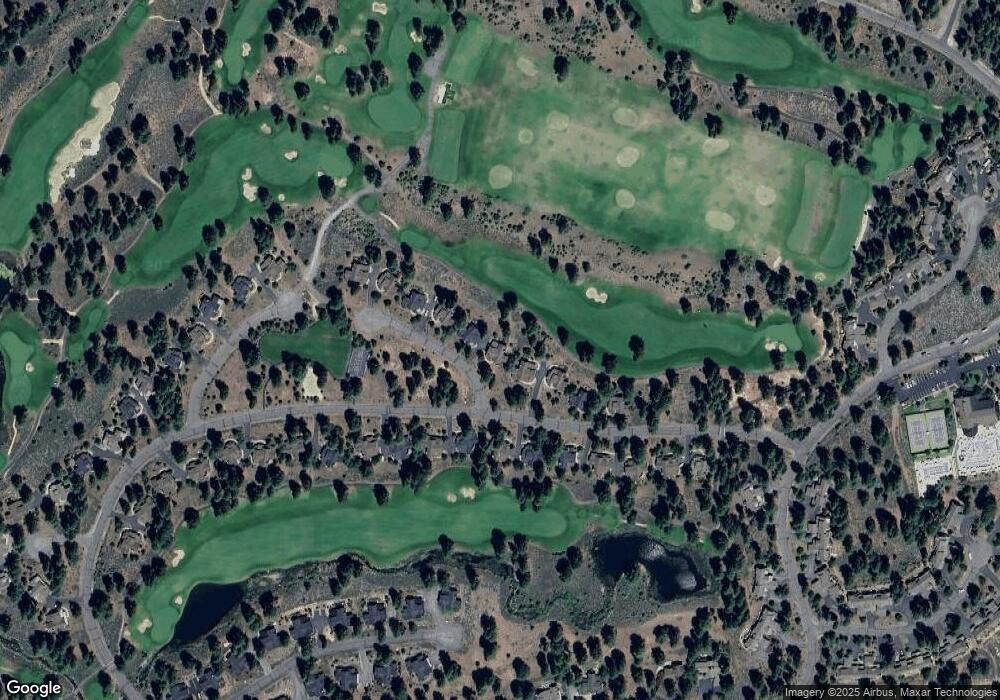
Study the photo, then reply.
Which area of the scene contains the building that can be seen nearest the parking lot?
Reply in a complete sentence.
The building that can be seen nearest the parking lot sits in the right section of the image.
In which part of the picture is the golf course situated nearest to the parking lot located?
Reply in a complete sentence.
You can find the golf course situated nearest to the parking lot in the center area of the picture.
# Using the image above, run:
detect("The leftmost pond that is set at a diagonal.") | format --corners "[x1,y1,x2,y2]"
[174,582,245,642]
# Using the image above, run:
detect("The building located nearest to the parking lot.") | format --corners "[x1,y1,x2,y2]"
[953,394,996,435]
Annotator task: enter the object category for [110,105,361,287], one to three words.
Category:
golf course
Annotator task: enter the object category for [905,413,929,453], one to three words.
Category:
tennis court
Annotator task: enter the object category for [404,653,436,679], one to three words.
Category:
house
